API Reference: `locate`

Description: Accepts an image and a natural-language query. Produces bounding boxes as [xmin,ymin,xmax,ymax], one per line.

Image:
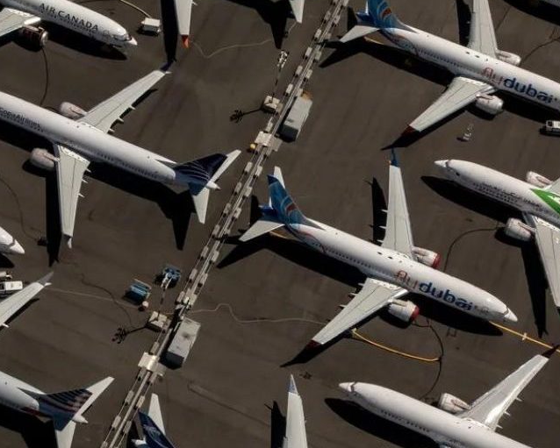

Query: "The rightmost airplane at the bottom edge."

[337,344,559,448]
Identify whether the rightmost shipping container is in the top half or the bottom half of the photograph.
top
